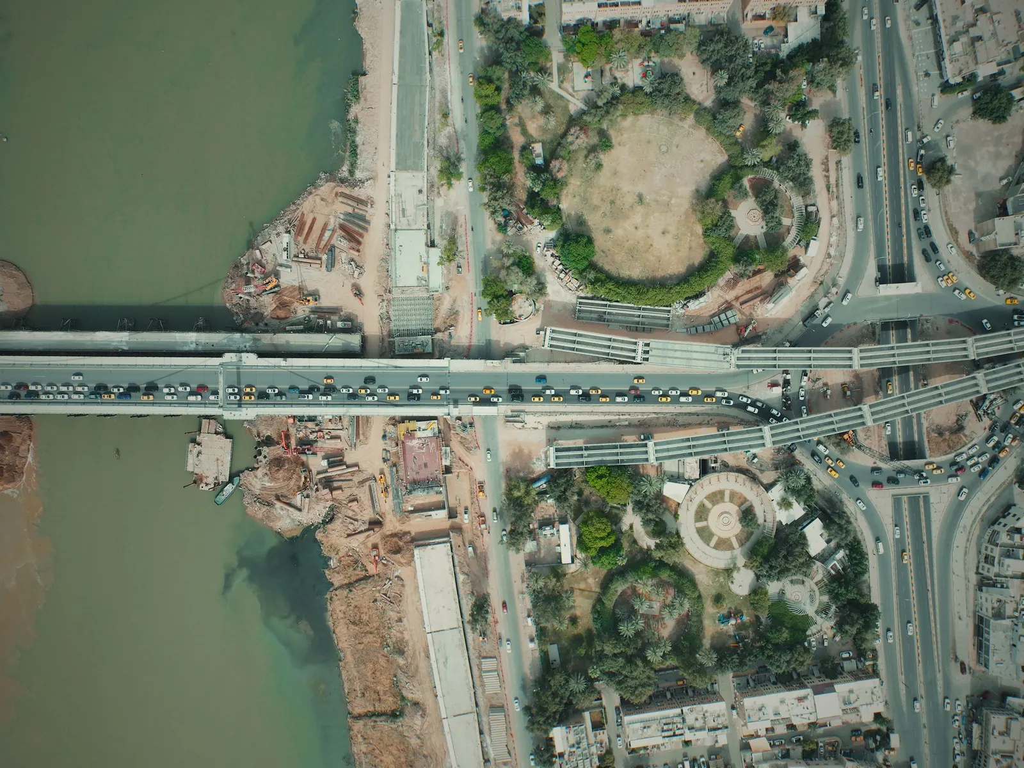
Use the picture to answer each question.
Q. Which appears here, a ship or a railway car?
ship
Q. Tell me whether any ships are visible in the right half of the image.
No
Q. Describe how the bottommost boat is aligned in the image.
on a diagonal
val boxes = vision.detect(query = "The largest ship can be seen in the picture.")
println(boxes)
[184,419,234,489]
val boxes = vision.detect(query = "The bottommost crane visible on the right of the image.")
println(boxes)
[841,430,921,478]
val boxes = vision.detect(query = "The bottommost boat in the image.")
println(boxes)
[215,478,238,505]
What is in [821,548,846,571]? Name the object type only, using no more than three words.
shed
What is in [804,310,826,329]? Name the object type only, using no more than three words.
vehicle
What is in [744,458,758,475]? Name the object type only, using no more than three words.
vehicle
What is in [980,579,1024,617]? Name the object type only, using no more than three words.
building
